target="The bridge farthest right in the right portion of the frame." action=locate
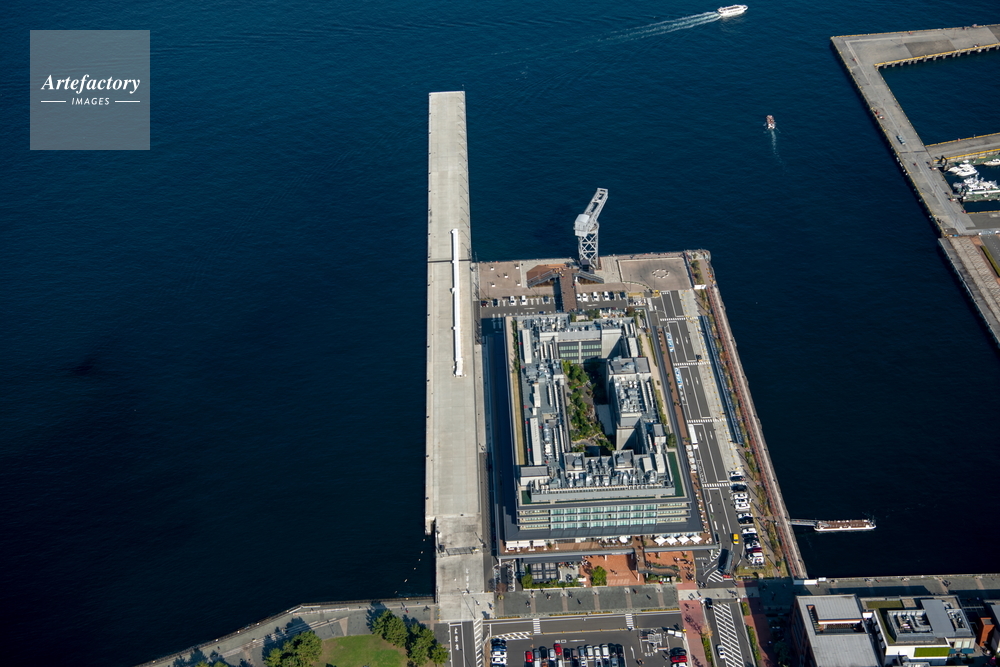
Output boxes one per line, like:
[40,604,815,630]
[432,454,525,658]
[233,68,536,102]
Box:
[634,549,680,580]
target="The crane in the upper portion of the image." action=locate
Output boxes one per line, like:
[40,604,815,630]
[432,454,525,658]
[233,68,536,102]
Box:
[573,186,609,271]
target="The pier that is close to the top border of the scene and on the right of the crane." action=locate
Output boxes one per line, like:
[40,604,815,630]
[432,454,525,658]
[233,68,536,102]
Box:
[831,24,1000,237]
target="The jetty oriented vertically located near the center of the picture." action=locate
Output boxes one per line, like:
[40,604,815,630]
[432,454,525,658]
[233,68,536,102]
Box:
[422,91,481,540]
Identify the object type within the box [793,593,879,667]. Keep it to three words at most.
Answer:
building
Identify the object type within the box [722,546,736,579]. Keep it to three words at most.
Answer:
vehicle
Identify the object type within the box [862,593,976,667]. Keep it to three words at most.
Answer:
building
